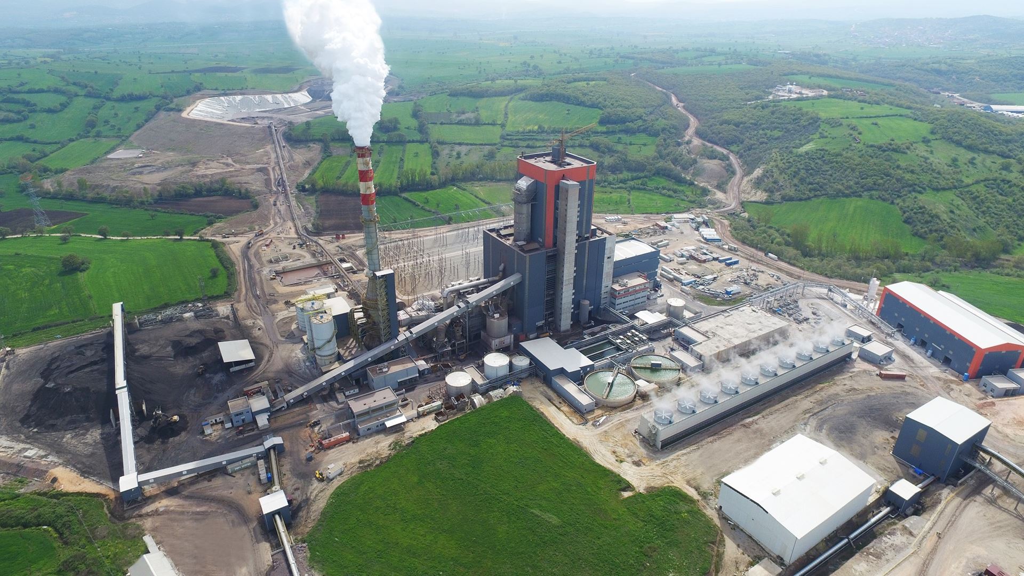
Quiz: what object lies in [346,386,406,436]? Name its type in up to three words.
building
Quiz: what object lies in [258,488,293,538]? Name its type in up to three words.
house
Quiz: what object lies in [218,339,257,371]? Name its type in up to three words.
shed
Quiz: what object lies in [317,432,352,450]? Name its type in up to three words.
vehicle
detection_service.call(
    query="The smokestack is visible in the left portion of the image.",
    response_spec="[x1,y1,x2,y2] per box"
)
[355,146,384,347]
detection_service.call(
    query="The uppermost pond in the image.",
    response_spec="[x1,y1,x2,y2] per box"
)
[190,89,311,118]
